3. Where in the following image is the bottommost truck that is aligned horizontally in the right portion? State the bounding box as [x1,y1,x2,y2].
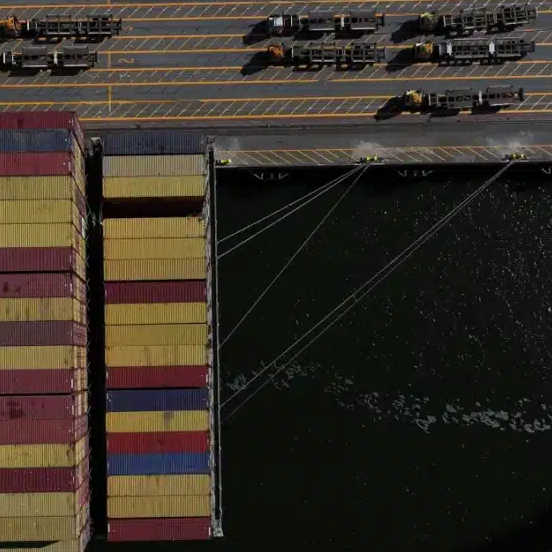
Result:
[399,83,522,111]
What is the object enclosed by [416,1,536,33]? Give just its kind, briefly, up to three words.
truck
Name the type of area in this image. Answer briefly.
port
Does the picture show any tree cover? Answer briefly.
No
